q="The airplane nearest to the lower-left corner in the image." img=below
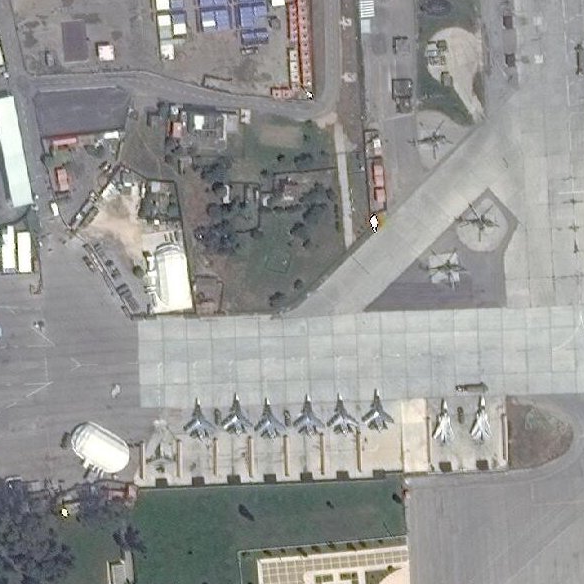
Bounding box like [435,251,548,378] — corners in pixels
[145,419,176,461]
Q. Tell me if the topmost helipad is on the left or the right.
right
